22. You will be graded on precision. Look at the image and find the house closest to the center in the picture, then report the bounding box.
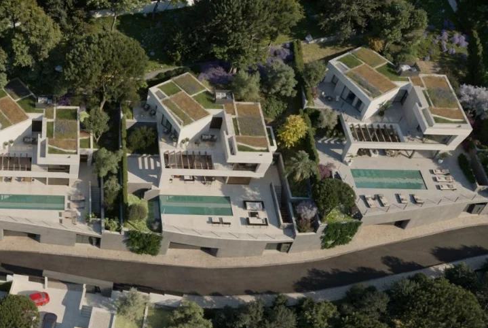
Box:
[132,72,297,259]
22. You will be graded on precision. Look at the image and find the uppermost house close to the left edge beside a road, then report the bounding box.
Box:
[0,81,104,254]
